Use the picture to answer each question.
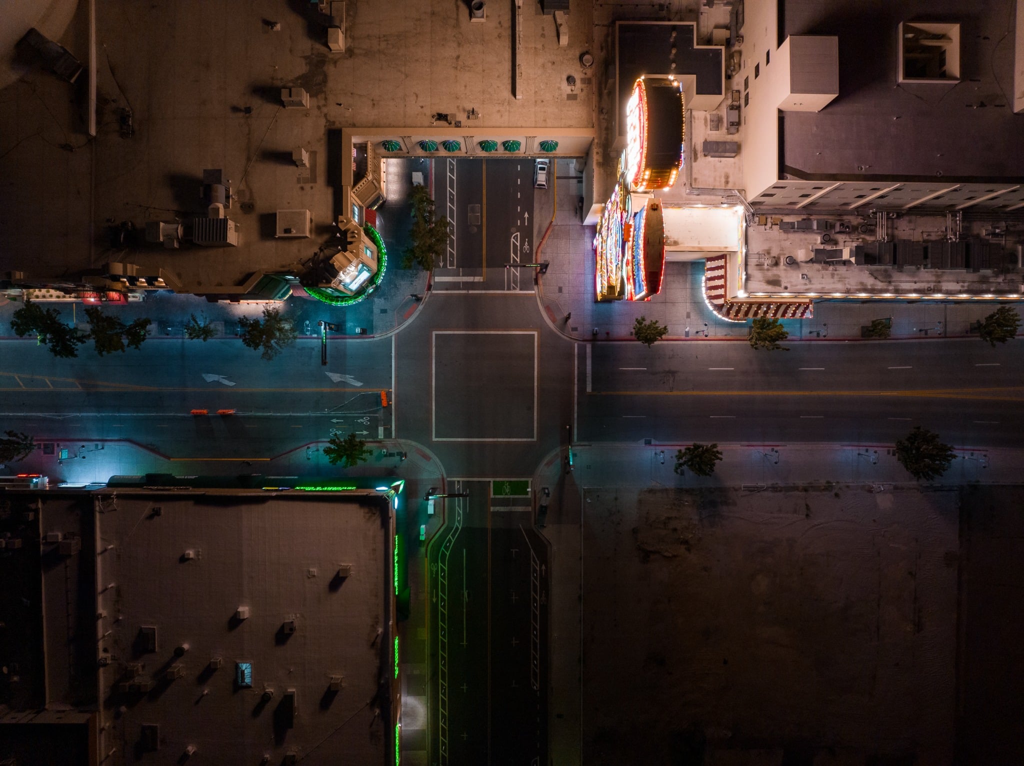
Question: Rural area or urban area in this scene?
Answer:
urban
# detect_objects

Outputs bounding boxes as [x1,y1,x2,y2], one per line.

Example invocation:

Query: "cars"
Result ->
[534,164,549,188]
